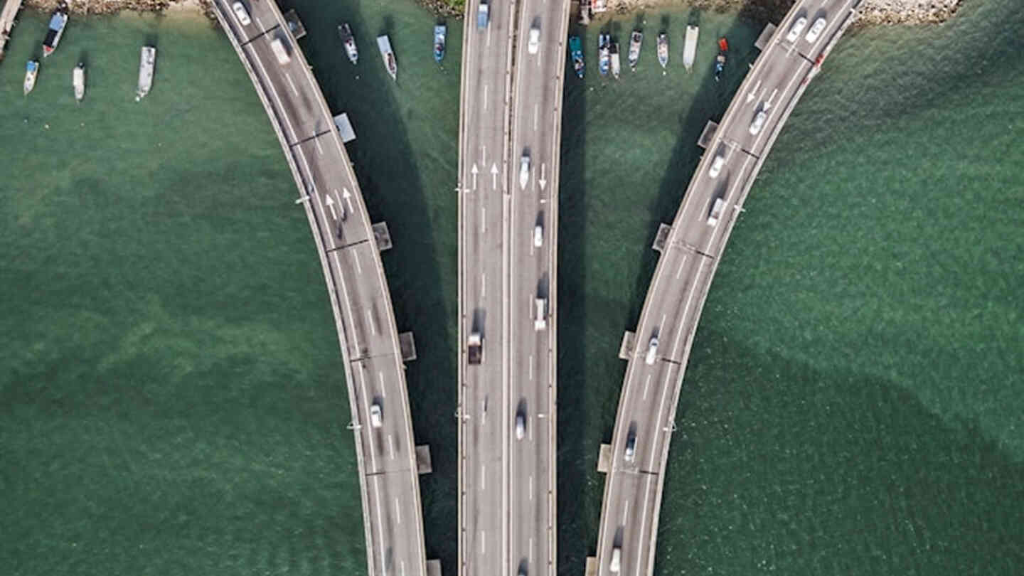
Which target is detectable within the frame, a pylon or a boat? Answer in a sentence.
It is a boat that can be seen here.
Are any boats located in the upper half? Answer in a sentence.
Yes, in the upper half there is a boat.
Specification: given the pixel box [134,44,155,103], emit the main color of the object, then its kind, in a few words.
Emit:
white boat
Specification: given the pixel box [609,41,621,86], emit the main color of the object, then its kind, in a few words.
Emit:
white boat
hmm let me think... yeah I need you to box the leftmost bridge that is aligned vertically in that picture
[208,0,444,576]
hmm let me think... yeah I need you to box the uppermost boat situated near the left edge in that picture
[42,11,68,63]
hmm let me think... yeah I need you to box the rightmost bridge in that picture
[584,0,867,576]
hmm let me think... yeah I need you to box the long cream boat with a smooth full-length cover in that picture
[683,23,700,83]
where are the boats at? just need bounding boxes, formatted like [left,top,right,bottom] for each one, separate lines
[598,33,610,83]
[339,23,357,69]
[656,32,669,68]
[377,33,399,90]
[23,58,40,103]
[74,62,88,107]
[714,34,728,89]
[134,44,155,103]
[683,23,700,83]
[570,35,584,79]
[42,11,68,63]
[434,24,446,71]
[609,41,621,86]
[628,29,642,74]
